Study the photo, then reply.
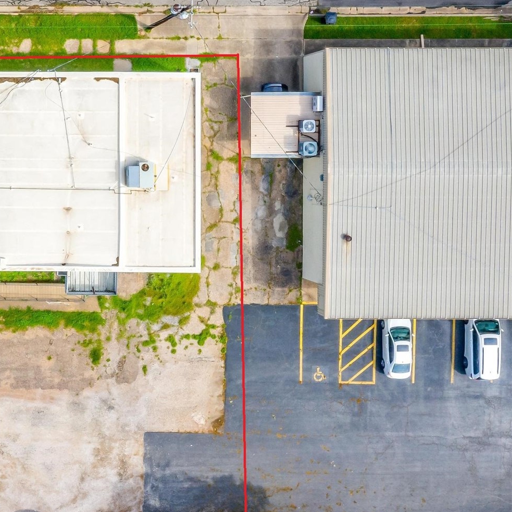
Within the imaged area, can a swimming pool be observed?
No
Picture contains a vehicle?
Yes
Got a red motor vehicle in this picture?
No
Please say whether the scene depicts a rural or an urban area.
urban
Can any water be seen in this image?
No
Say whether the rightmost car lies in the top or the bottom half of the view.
bottom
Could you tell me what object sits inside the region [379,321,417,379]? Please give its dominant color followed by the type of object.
white car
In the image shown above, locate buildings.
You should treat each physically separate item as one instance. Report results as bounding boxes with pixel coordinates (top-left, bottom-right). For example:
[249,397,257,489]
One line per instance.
[0,67,200,296]
[305,39,512,321]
